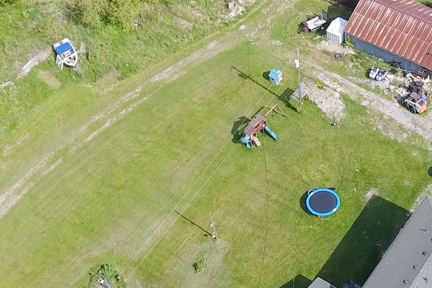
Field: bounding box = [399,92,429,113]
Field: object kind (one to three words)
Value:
work vehicle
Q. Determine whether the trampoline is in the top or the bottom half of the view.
bottom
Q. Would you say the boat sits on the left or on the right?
left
